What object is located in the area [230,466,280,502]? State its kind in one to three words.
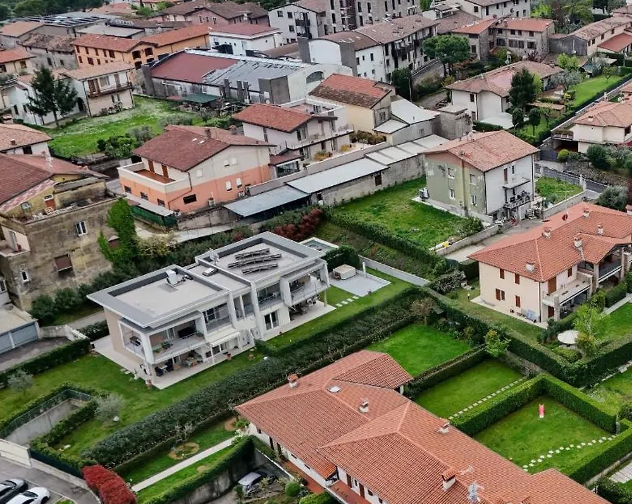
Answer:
car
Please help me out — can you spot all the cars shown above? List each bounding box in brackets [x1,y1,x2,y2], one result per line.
[230,466,280,502]
[6,491,50,504]
[0,478,30,504]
